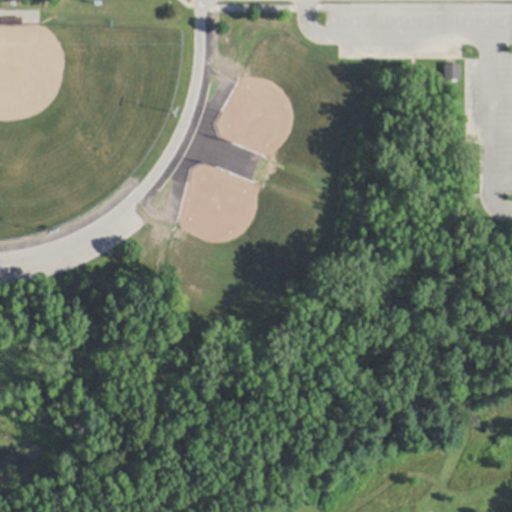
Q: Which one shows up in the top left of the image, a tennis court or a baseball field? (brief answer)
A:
baseball field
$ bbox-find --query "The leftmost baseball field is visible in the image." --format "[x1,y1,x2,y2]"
[0,24,182,242]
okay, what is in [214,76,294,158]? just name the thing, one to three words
baseball field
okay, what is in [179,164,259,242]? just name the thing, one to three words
baseball field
